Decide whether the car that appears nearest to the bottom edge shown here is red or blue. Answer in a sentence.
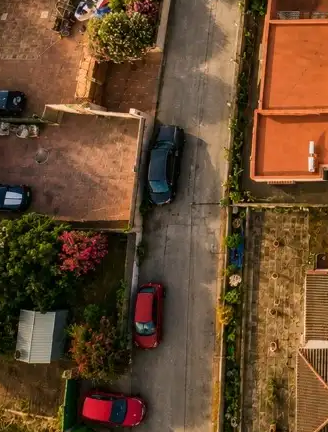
The car that appears nearest to the bottom edge is red.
